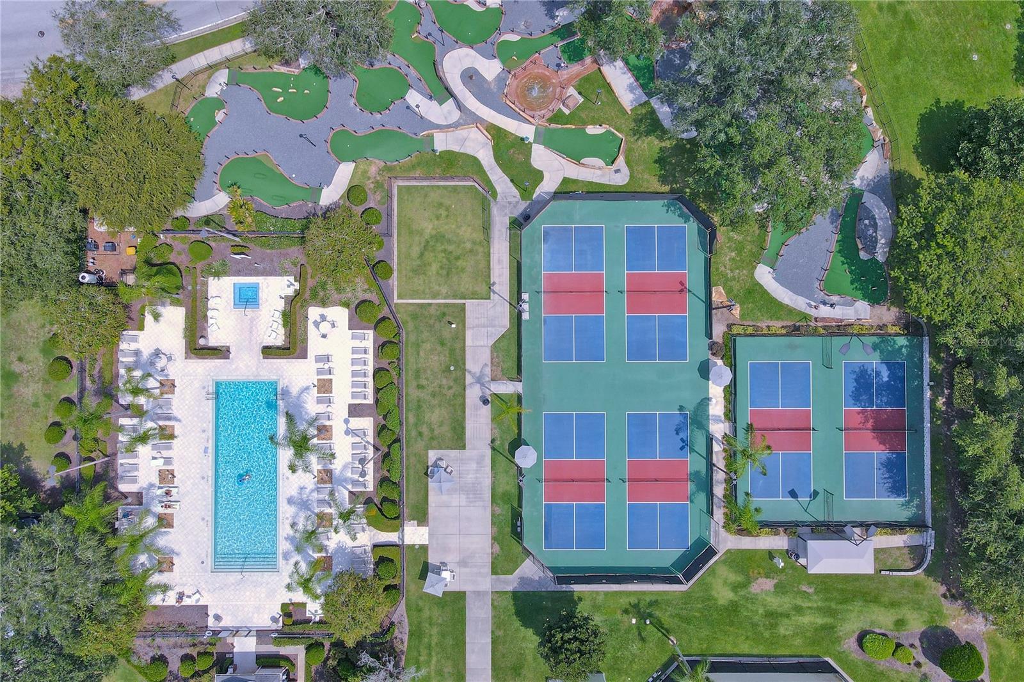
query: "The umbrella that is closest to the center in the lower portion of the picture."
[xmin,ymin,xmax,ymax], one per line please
[515,445,537,467]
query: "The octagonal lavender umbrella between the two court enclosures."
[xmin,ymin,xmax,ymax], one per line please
[708,364,731,387]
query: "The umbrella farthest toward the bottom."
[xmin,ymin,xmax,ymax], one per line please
[421,570,449,598]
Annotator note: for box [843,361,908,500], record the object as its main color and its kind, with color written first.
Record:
blue sports court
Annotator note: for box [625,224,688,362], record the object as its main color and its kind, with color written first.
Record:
blue sports court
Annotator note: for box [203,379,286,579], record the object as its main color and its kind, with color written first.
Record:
blue swimming pool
